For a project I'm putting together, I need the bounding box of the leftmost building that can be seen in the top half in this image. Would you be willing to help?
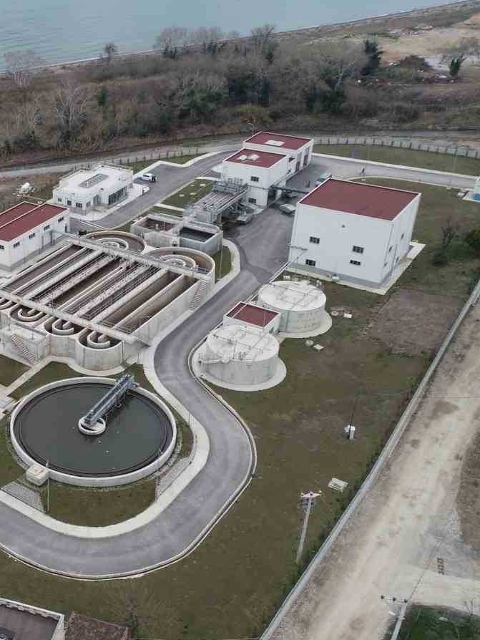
[0,203,68,265]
